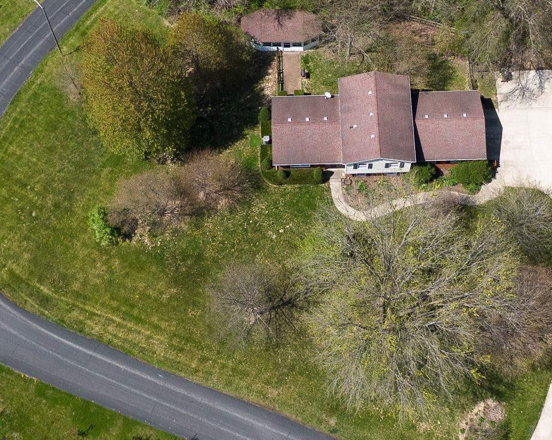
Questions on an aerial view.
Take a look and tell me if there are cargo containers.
No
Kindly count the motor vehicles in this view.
0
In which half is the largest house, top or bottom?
top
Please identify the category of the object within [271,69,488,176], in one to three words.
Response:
house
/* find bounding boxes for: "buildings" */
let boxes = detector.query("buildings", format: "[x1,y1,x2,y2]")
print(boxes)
[240,8,323,51]
[271,69,488,176]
